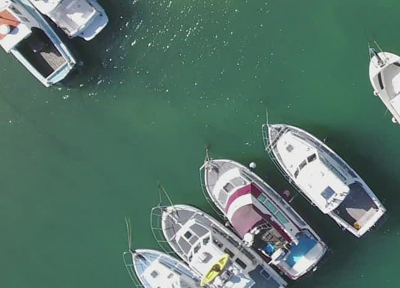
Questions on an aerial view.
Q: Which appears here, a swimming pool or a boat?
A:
boat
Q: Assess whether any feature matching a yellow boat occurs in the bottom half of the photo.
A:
Yes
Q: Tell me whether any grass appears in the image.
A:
No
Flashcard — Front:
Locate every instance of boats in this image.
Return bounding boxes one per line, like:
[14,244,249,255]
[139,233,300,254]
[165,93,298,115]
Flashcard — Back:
[155,203,285,288]
[0,0,79,87]
[262,122,386,237]
[199,158,327,280]
[371,48,400,121]
[26,0,110,42]
[123,247,207,288]
[200,254,229,287]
